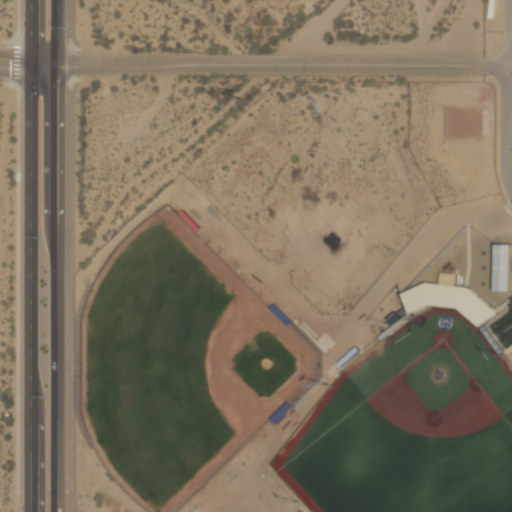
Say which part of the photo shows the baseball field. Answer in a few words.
bottom right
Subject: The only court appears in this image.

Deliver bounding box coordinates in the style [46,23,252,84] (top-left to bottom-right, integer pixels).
[442,105,483,140]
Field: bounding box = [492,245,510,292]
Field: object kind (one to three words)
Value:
building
